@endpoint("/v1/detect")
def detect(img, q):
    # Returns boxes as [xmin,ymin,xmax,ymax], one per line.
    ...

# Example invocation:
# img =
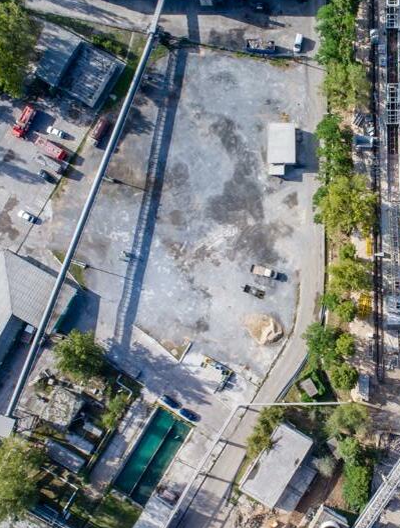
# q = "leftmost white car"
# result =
[19,211,35,224]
